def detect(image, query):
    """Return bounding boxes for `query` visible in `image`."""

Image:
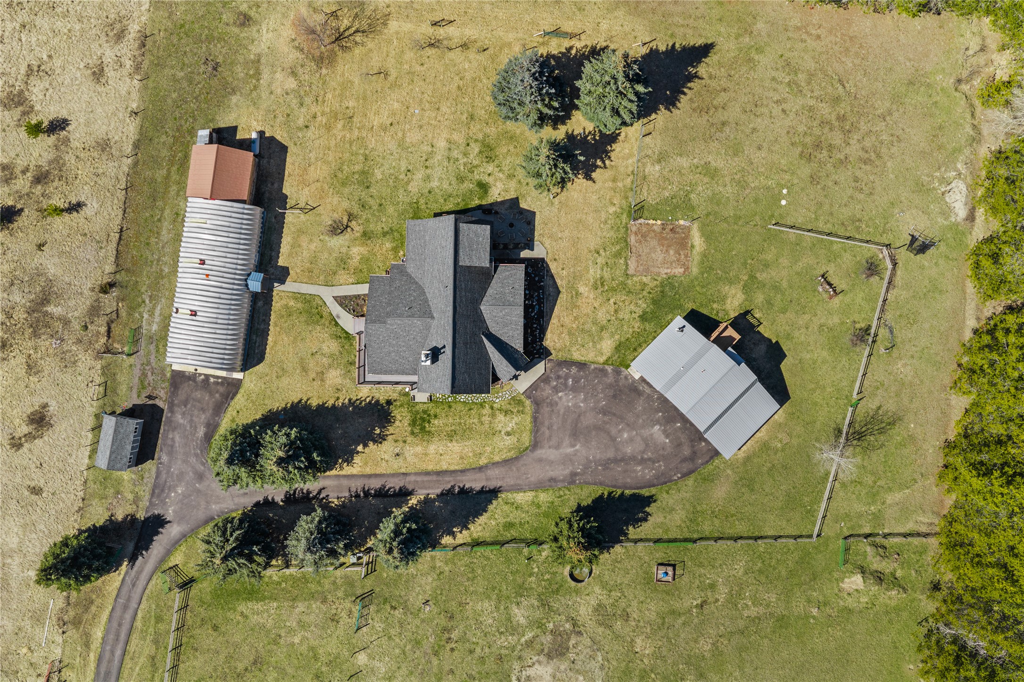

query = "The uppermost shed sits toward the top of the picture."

[189,143,269,204]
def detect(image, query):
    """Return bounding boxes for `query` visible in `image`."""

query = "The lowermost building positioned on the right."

[633,315,780,458]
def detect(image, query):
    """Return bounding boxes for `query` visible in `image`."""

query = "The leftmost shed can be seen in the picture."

[94,414,143,472]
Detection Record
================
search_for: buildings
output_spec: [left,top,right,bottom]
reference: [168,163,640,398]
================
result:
[366,214,529,394]
[633,315,780,458]
[94,414,143,472]
[163,197,268,373]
